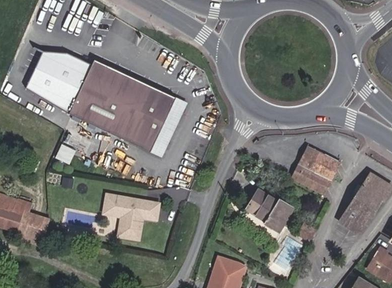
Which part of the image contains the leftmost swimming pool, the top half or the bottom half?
bottom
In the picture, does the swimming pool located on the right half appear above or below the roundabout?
below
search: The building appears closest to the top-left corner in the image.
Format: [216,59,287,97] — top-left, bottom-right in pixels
[26,52,88,112]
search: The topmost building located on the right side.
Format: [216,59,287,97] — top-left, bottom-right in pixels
[292,144,341,194]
